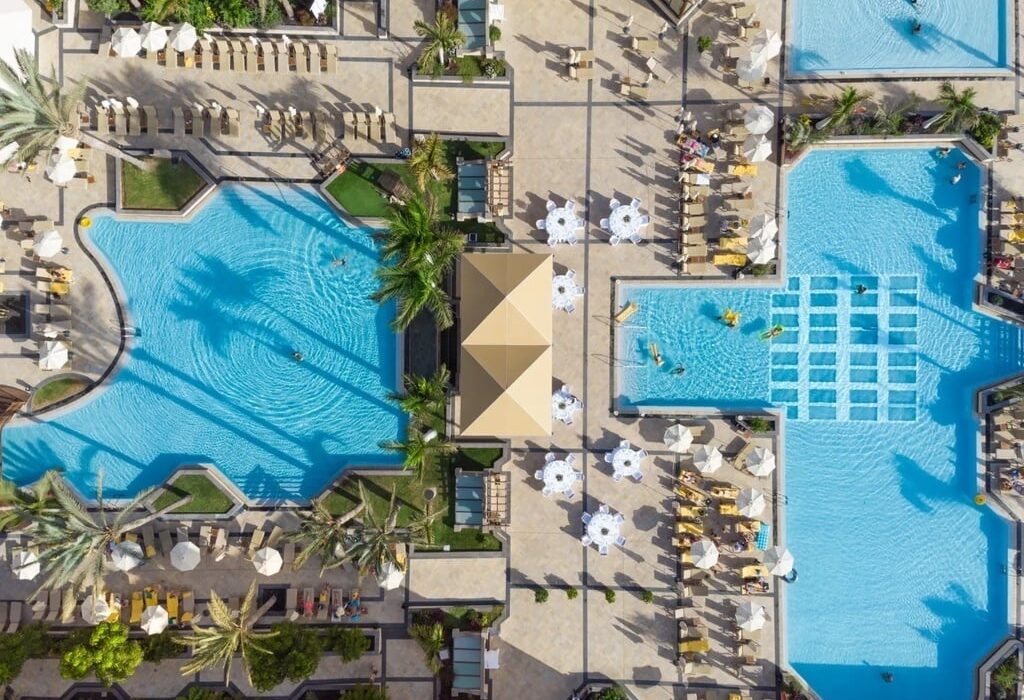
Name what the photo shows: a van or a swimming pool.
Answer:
swimming pool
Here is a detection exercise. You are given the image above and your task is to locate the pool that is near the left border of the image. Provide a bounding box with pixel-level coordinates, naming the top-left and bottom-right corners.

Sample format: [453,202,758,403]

[5,185,396,502]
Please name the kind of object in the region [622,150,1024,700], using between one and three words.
swimming pool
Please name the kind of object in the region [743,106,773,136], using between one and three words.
umbrella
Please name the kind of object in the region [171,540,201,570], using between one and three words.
umbrella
